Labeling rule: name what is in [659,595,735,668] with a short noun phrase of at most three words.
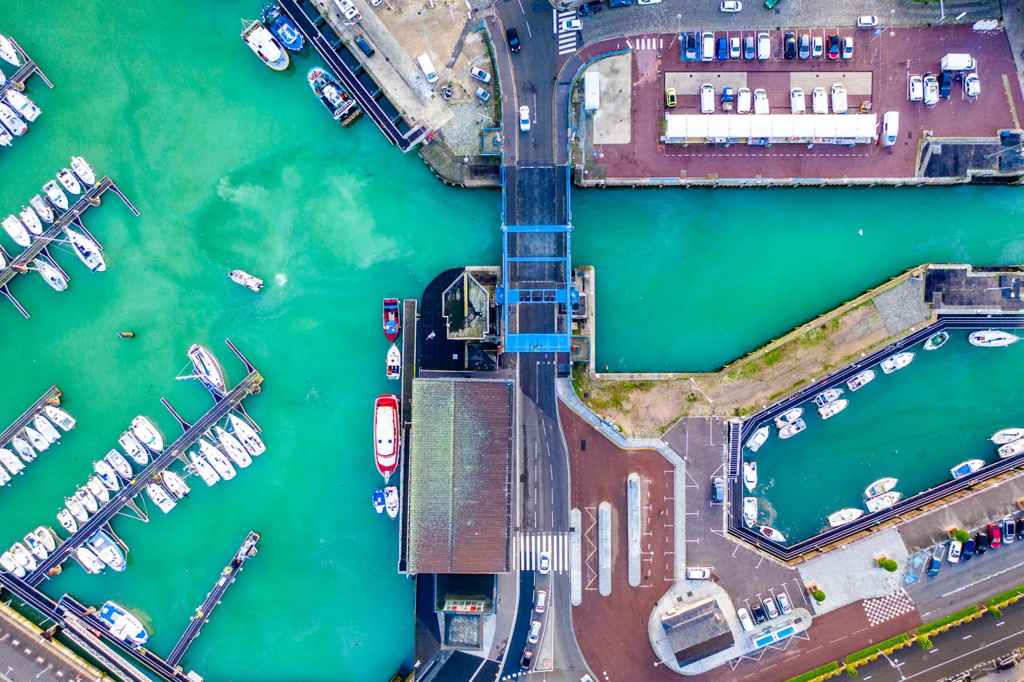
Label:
building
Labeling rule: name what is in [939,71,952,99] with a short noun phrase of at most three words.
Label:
vehicle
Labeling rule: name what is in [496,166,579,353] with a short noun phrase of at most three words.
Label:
bridge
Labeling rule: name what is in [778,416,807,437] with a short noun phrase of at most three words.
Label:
boat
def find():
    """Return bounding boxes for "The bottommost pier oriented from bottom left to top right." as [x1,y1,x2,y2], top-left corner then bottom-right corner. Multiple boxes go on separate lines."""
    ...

[167,532,260,668]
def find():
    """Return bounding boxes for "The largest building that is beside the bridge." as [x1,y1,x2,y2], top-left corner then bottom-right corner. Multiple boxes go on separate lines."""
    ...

[408,377,514,574]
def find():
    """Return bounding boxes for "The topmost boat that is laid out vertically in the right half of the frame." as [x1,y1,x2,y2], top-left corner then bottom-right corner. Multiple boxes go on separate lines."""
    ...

[742,459,757,493]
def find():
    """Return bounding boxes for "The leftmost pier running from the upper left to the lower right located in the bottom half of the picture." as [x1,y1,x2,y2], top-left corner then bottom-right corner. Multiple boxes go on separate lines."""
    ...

[0,563,64,621]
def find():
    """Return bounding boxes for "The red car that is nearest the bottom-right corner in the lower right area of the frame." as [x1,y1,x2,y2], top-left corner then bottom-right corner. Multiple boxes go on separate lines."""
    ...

[987,523,1002,547]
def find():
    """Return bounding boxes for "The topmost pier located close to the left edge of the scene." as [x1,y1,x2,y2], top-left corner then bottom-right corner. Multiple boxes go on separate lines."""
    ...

[0,36,56,117]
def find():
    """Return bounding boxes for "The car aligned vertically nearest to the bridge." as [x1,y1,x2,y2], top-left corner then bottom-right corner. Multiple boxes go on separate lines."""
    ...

[519,106,531,133]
